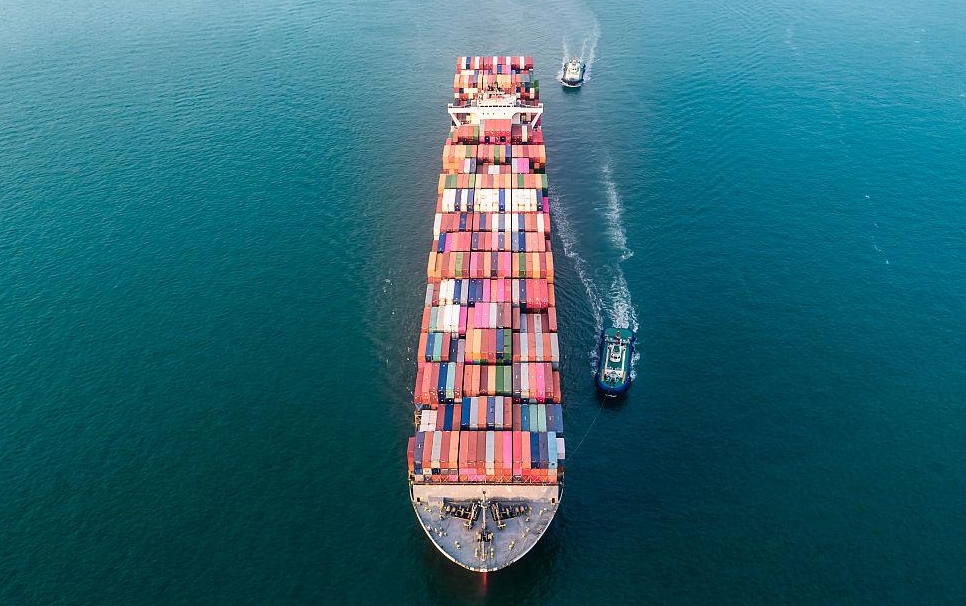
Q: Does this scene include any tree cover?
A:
No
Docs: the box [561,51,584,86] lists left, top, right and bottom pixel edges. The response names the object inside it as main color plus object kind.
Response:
white boat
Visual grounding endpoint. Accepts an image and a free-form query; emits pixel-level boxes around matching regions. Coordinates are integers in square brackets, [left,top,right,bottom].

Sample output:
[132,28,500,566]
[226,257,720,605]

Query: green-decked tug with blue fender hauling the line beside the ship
[596,325,634,391]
